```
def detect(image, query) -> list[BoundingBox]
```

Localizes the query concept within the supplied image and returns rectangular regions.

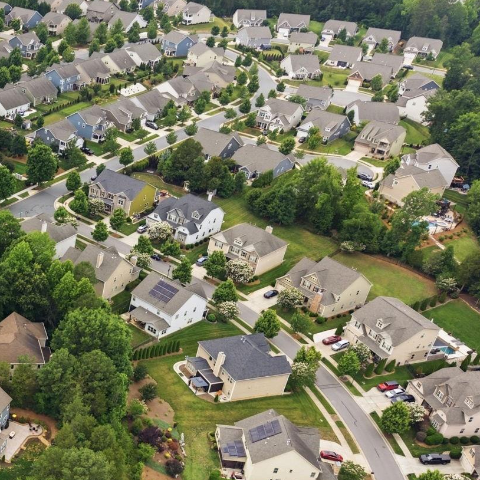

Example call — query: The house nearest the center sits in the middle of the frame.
[196,222,283,289]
